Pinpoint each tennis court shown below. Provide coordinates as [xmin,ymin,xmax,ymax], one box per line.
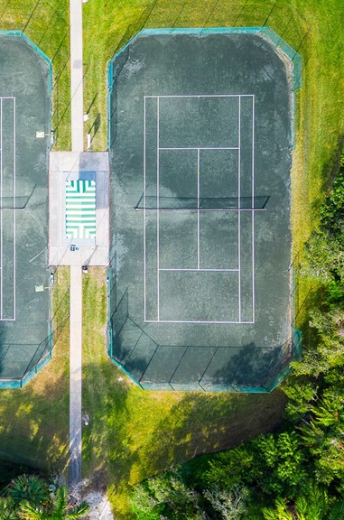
[0,36,50,380]
[104,33,292,385]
